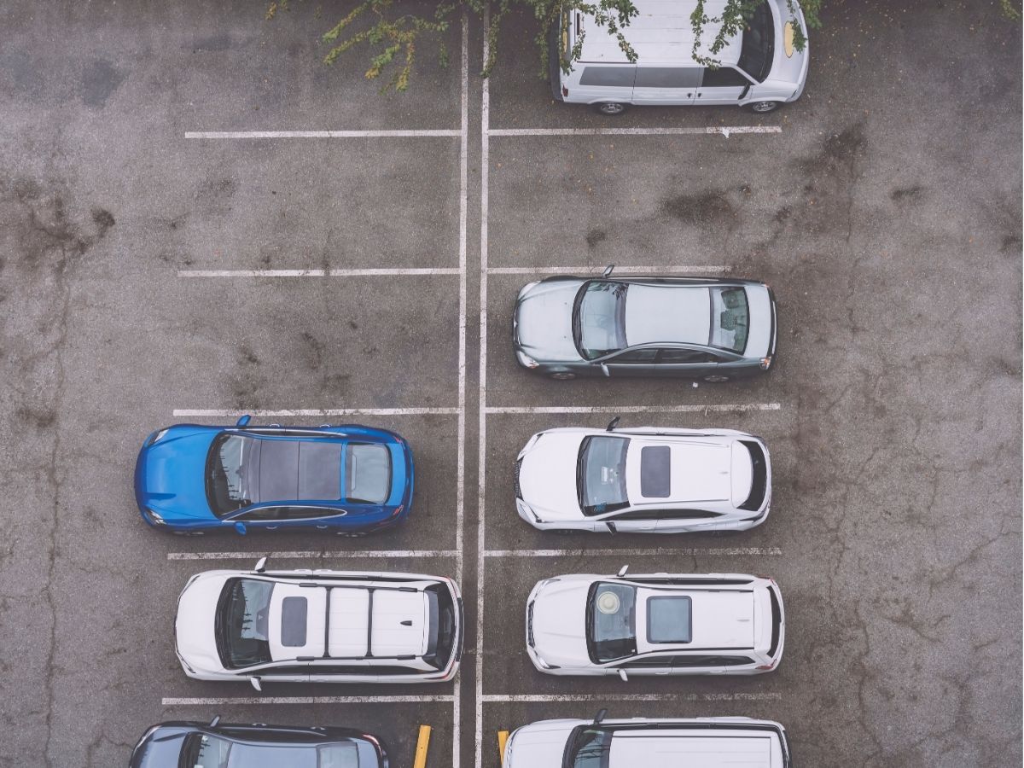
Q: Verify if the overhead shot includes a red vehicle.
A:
No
